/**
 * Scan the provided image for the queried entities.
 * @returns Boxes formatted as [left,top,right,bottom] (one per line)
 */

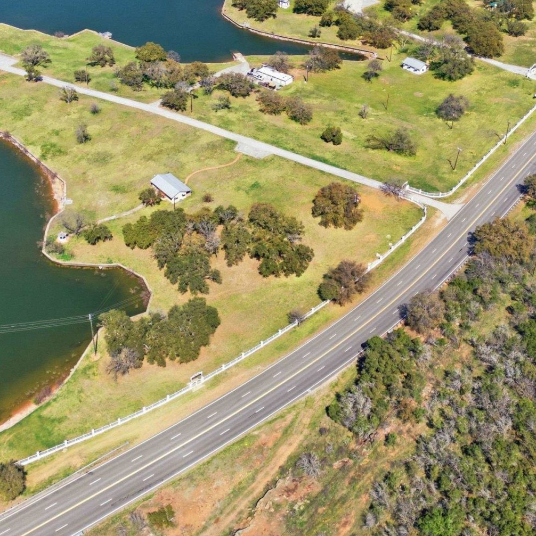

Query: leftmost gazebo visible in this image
[54,229,69,243]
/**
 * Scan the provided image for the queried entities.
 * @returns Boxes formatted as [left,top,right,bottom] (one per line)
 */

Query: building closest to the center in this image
[151,175,192,206]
